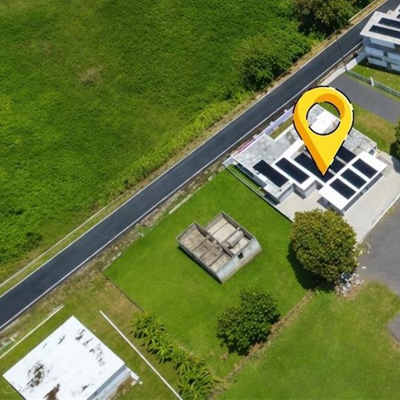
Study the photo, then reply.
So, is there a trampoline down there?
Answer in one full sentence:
No, this view has no trampoline in it.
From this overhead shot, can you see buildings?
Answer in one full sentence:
Yes, there is a building in the image.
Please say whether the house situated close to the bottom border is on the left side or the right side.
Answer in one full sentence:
The house situated close to the bottom border sits on the left side.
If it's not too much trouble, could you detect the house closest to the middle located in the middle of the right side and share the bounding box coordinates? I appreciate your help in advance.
[231,103,388,219]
